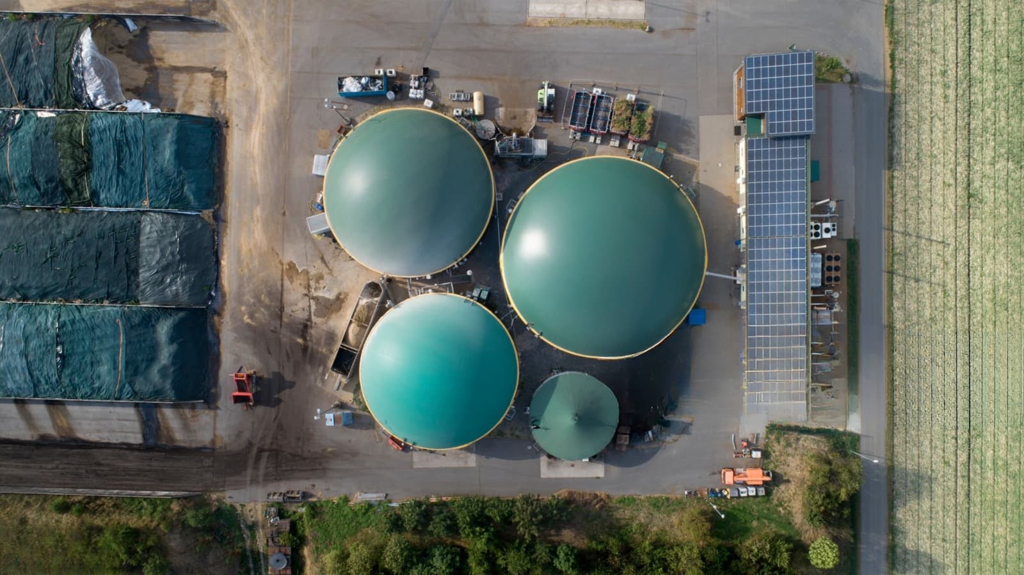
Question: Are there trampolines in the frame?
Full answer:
No, I find no trampoline anywhere in the image.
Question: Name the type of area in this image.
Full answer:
It's an industrial area.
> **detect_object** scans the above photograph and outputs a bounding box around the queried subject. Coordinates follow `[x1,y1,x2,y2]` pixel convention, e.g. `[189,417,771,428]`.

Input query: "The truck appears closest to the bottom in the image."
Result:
[716,464,772,485]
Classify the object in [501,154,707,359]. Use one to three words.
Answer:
storage tank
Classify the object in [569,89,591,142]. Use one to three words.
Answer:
trailer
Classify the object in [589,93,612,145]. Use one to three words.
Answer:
trailer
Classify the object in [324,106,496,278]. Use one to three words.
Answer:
storage tank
